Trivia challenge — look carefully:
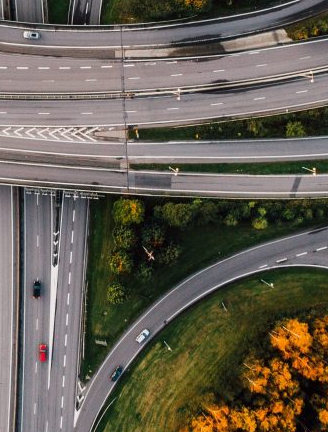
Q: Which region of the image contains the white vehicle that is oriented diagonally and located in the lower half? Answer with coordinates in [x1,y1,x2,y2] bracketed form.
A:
[135,328,150,343]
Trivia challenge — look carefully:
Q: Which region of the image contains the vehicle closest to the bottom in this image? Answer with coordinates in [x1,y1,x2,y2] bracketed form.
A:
[110,365,123,381]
